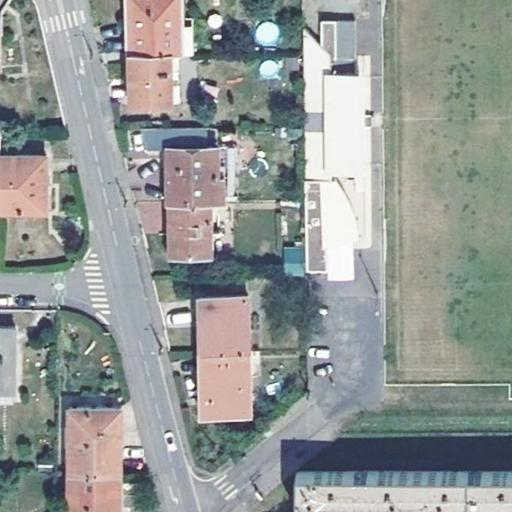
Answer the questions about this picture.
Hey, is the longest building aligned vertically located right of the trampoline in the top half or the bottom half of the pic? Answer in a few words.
top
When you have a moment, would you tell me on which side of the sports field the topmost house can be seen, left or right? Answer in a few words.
left of it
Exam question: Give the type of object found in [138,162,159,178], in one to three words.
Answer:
car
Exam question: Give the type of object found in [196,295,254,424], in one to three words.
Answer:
house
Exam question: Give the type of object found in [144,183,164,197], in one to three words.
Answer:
car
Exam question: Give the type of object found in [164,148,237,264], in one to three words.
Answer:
house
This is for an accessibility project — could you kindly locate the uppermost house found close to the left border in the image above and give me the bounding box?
[0,154,50,219]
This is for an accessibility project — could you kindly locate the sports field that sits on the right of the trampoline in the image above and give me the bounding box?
[384,0,512,384]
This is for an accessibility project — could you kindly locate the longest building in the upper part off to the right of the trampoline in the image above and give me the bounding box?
[304,20,382,280]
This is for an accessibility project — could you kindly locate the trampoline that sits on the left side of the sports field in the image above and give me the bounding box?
[248,156,268,176]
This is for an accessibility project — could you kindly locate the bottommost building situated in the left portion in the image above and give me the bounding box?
[64,407,124,512]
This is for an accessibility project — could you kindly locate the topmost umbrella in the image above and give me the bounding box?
[208,14,223,28]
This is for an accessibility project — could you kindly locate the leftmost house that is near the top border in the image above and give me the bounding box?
[124,0,194,116]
